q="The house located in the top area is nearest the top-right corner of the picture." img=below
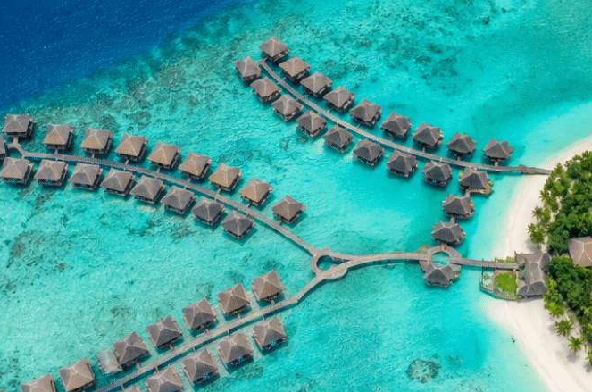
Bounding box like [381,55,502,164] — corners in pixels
[485,141,513,166]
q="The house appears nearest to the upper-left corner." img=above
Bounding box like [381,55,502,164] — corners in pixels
[5,117,38,142]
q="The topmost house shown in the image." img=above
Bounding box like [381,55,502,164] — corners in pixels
[260,40,291,67]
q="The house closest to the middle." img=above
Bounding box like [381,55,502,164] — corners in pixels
[272,195,308,230]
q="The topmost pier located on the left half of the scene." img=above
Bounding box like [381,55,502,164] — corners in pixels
[8,139,319,256]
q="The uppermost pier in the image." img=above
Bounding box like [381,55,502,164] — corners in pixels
[257,60,552,177]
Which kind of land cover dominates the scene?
water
